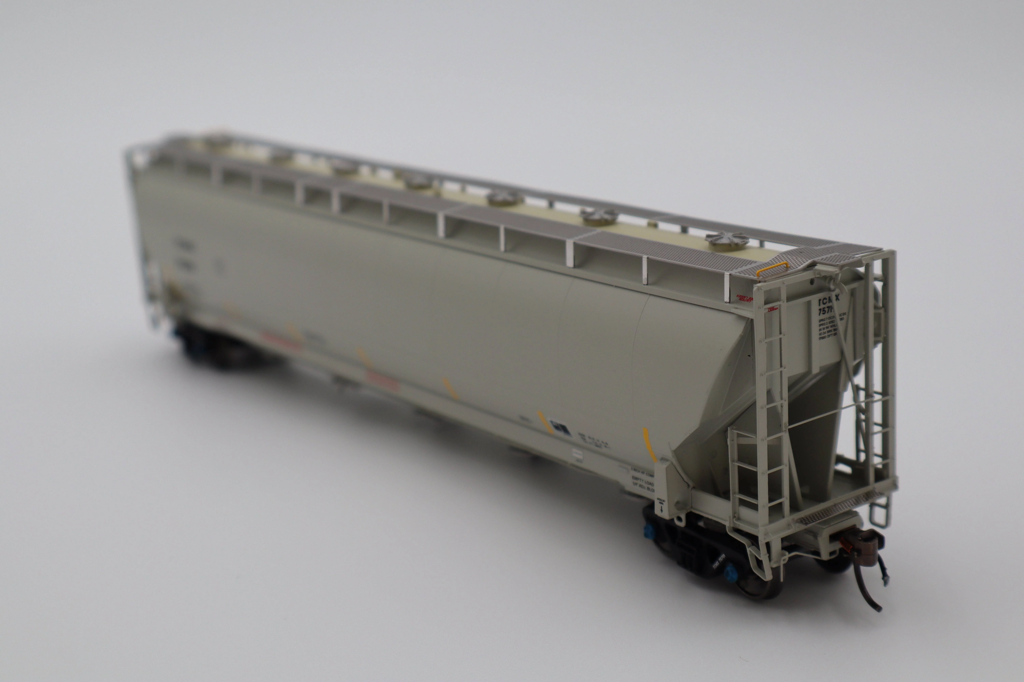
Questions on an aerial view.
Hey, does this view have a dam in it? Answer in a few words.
No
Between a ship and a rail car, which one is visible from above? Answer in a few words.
rail car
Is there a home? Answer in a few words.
No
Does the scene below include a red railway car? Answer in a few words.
No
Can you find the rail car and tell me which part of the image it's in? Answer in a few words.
center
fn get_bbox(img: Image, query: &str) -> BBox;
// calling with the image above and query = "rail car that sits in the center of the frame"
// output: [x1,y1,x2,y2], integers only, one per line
[128,129,899,612]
